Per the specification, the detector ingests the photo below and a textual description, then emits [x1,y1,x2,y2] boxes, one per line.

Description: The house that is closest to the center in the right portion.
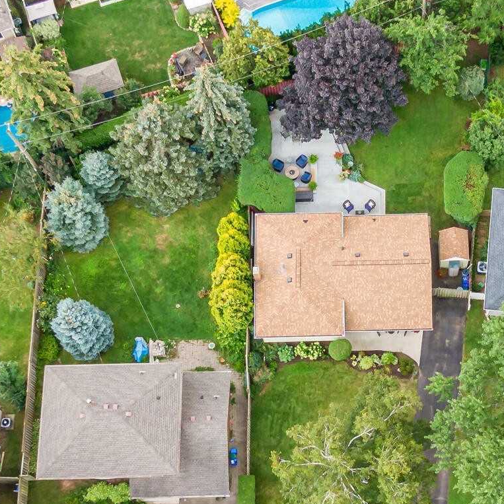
[251,213,434,345]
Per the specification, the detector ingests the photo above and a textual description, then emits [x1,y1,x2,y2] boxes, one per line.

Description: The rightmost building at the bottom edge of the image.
[35,362,232,501]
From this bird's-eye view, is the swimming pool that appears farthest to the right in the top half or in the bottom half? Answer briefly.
top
